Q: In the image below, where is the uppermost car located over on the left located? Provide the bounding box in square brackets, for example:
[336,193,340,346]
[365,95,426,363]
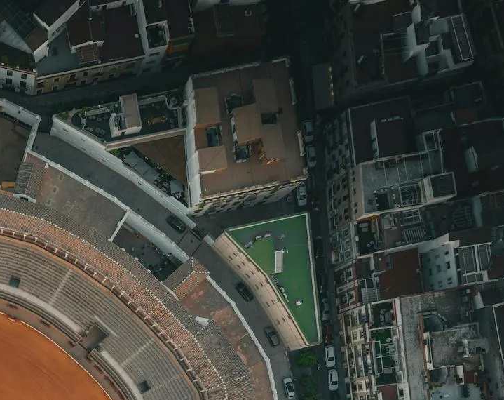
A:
[165,215,186,234]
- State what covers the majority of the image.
buildings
